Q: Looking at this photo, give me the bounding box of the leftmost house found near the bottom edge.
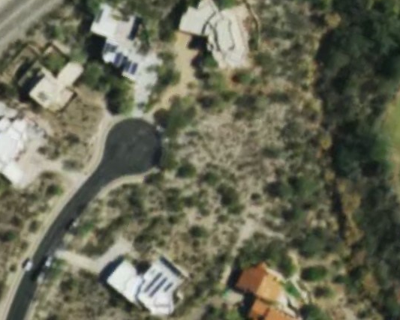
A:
[108,258,183,318]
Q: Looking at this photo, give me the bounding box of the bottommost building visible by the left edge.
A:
[0,117,30,188]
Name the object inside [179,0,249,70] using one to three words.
house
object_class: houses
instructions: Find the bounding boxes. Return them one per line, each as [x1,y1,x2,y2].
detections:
[179,0,249,70]
[90,4,145,81]
[108,258,183,318]
[29,62,83,113]
[237,264,300,320]
[0,117,30,188]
